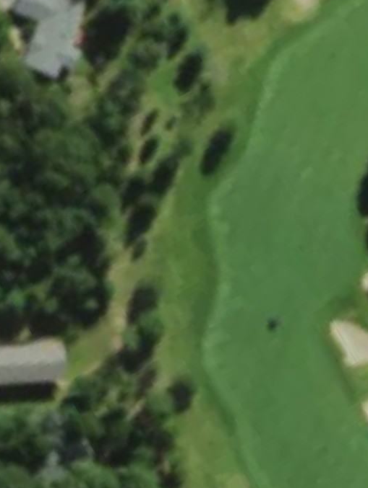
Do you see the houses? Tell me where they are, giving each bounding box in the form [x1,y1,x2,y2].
[36,422,91,476]
[11,0,90,81]
[0,338,68,385]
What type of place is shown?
golf course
